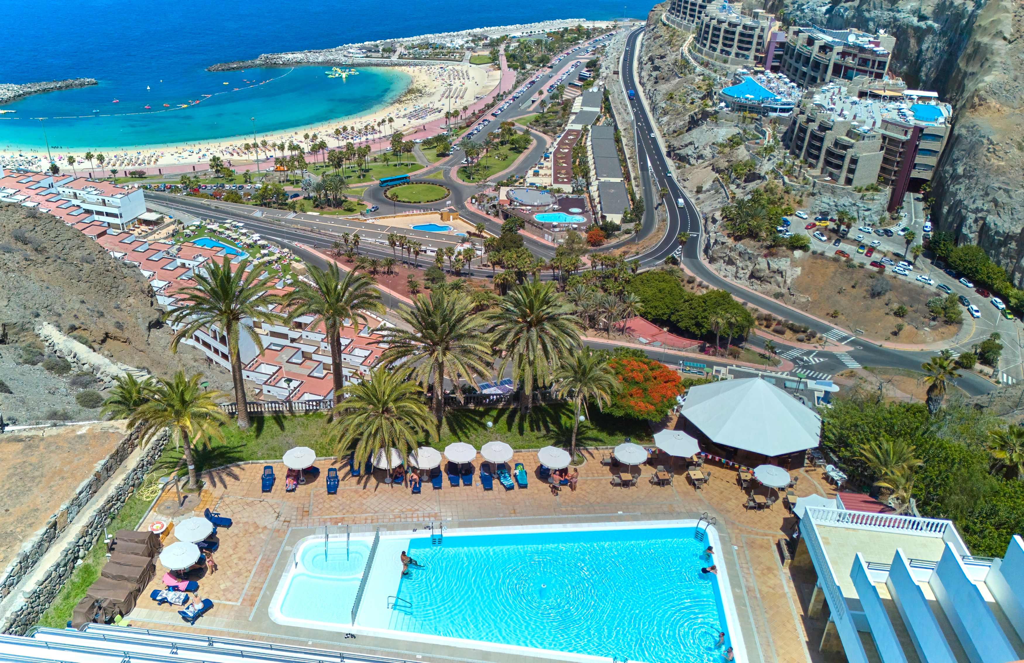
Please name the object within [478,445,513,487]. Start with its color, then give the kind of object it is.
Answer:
white umbrella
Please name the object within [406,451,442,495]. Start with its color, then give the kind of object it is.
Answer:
white umbrella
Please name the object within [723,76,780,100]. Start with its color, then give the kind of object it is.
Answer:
blue swimming pool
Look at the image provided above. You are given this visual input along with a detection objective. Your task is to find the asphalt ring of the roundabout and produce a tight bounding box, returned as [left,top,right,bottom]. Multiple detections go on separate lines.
[356,175,477,209]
